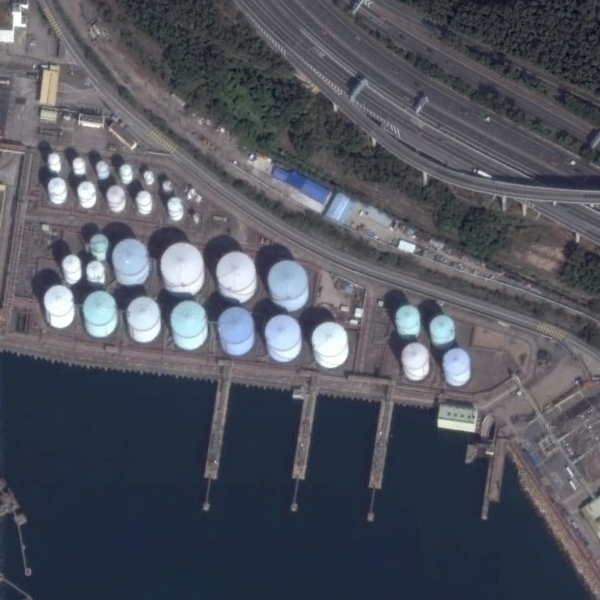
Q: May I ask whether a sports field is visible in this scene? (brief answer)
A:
No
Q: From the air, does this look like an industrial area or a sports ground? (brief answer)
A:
industrial area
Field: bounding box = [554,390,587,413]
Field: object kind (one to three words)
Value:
building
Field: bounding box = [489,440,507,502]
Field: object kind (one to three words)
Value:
pier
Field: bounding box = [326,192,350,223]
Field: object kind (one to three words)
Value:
shed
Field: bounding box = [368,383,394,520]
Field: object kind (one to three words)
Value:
pier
